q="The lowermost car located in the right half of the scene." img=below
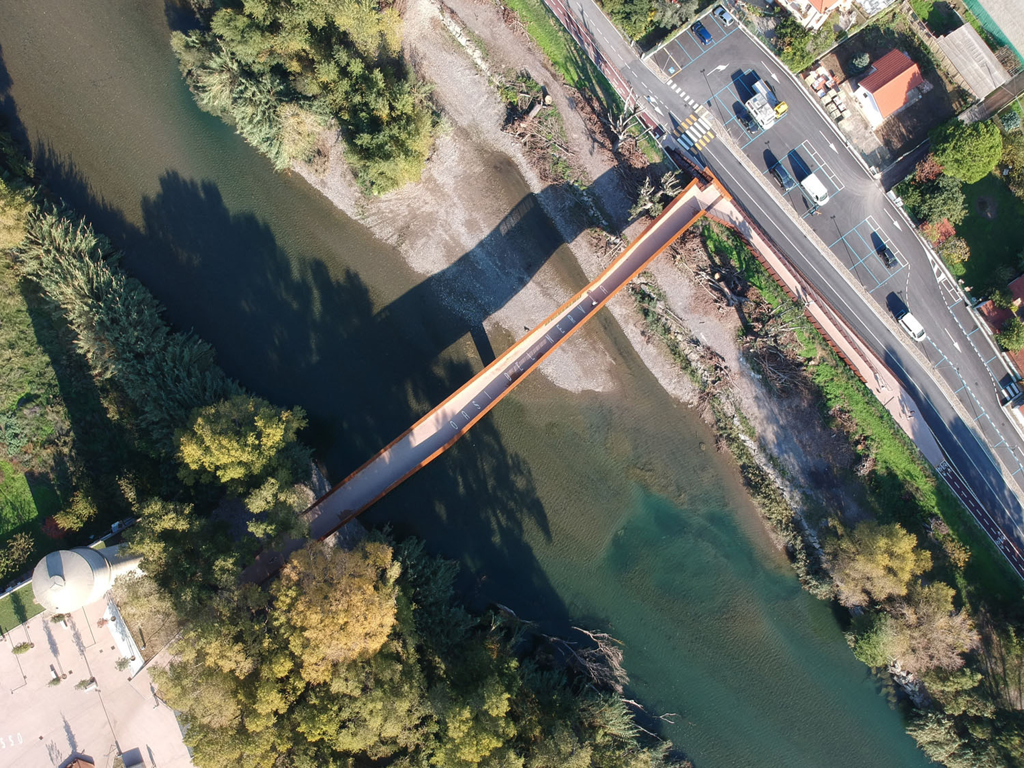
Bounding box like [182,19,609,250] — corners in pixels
[898,314,926,342]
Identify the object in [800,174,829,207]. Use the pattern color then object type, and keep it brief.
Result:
white van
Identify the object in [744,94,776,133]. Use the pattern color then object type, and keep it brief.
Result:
white van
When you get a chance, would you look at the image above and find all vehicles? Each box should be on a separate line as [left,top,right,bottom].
[713,4,734,28]
[770,165,794,191]
[756,78,790,116]
[877,248,899,270]
[736,110,758,135]
[800,174,829,207]
[690,20,713,45]
[744,94,776,133]
[898,314,926,342]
